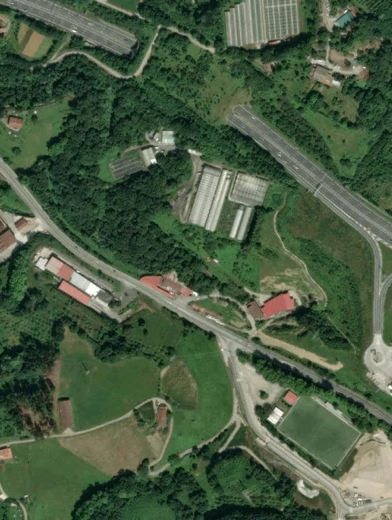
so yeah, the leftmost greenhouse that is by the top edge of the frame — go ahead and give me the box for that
[226,0,267,46]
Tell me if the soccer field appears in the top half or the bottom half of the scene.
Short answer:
bottom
